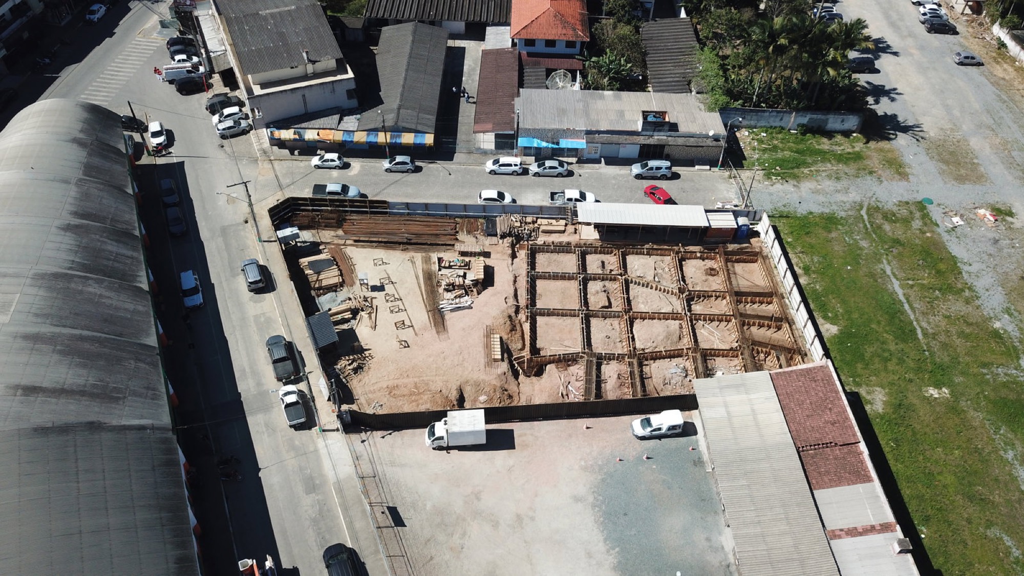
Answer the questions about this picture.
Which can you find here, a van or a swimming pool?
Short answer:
van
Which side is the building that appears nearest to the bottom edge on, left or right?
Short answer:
right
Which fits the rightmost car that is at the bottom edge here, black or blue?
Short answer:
black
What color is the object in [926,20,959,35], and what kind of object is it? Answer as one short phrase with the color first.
black car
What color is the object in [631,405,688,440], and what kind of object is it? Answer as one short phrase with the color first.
white van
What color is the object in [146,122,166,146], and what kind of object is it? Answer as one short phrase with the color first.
white car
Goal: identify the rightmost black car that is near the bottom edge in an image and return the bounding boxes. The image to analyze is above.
[324,542,362,576]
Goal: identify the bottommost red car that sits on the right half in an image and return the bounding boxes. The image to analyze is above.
[643,185,683,205]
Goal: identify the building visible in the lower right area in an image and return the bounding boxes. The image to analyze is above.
[694,358,924,576]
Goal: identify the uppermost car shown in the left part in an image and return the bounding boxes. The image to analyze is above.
[87,4,105,19]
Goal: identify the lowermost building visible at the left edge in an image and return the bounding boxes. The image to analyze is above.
[0,99,213,576]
